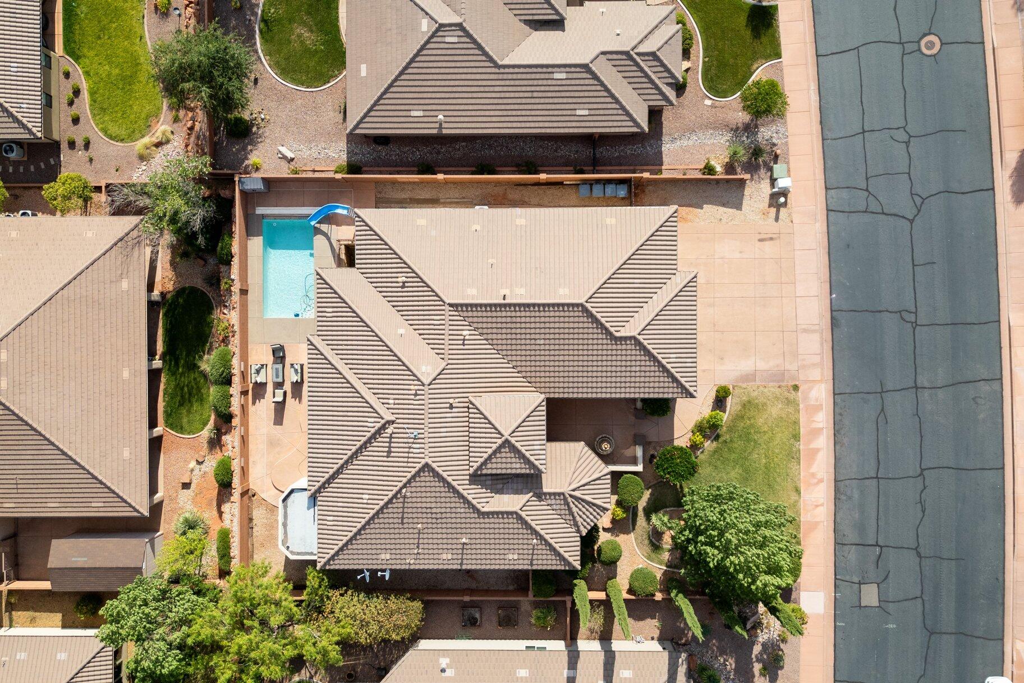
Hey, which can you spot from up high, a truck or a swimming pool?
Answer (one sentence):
Visible in the photo is a swimming pool.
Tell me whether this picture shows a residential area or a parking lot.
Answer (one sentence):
It's a residential area.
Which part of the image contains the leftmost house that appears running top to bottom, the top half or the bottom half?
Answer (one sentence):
The leftmost house that appears running top to bottom is in the top half of the image.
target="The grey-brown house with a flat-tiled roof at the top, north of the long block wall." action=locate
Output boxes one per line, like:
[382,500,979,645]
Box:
[344,0,684,137]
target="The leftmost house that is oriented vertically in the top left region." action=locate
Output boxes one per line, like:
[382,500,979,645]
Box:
[0,0,59,141]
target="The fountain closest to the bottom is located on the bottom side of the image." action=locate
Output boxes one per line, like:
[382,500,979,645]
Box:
[593,436,614,457]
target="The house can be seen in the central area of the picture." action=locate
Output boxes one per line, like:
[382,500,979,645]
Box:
[279,205,700,572]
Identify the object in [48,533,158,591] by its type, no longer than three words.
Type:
shed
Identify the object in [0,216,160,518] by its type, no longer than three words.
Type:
house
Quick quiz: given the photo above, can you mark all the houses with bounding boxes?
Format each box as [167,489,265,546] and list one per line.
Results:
[0,216,160,518]
[344,0,684,137]
[0,627,122,683]
[0,0,59,141]
[378,639,690,683]
[279,205,700,572]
